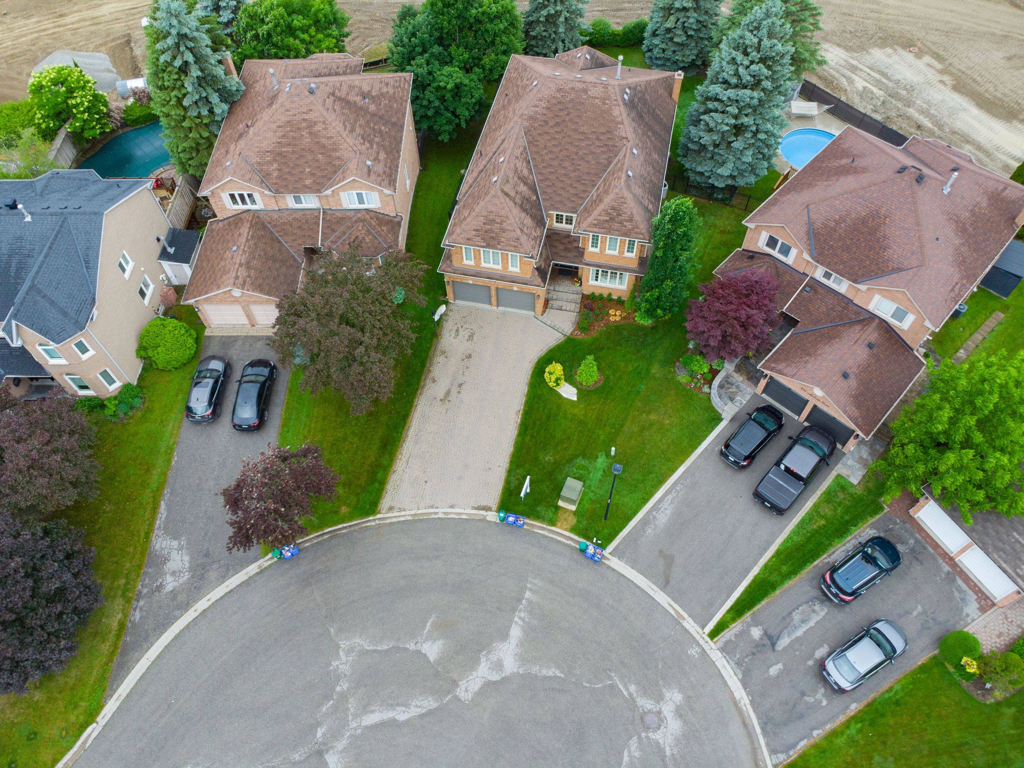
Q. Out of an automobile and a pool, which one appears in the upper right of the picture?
pool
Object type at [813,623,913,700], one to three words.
car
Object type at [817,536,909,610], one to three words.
car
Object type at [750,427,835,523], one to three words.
truck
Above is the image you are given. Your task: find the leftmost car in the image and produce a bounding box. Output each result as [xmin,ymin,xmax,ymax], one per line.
[181,357,231,425]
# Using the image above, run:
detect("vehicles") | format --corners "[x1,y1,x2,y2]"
[750,427,835,523]
[719,404,787,477]
[817,536,909,610]
[228,362,275,434]
[813,623,913,700]
[181,357,231,425]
